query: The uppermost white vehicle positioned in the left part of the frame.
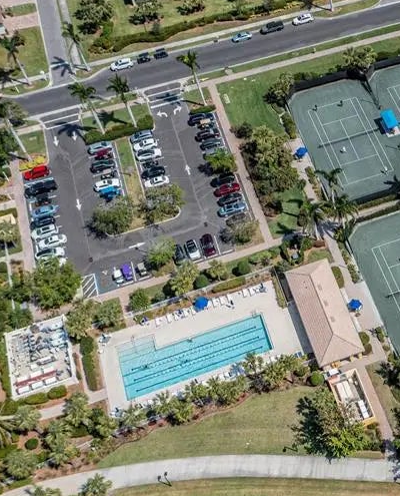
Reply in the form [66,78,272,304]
[110,59,133,71]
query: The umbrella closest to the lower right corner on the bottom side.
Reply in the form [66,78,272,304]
[348,299,363,313]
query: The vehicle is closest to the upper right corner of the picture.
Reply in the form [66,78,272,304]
[293,12,314,26]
